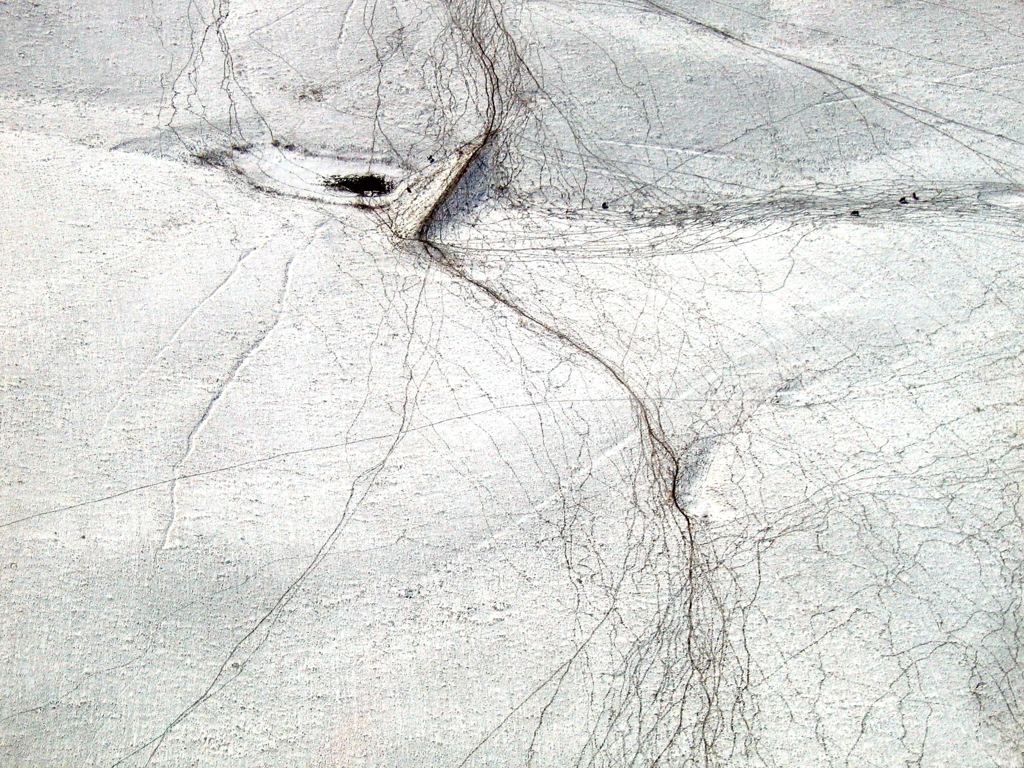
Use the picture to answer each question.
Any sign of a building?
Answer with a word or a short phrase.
No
